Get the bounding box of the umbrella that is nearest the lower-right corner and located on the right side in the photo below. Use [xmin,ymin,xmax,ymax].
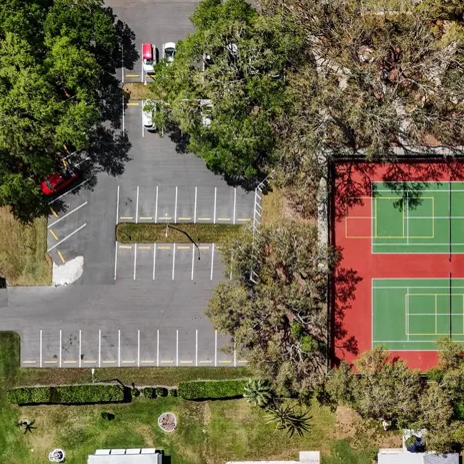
[409,435,423,450]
